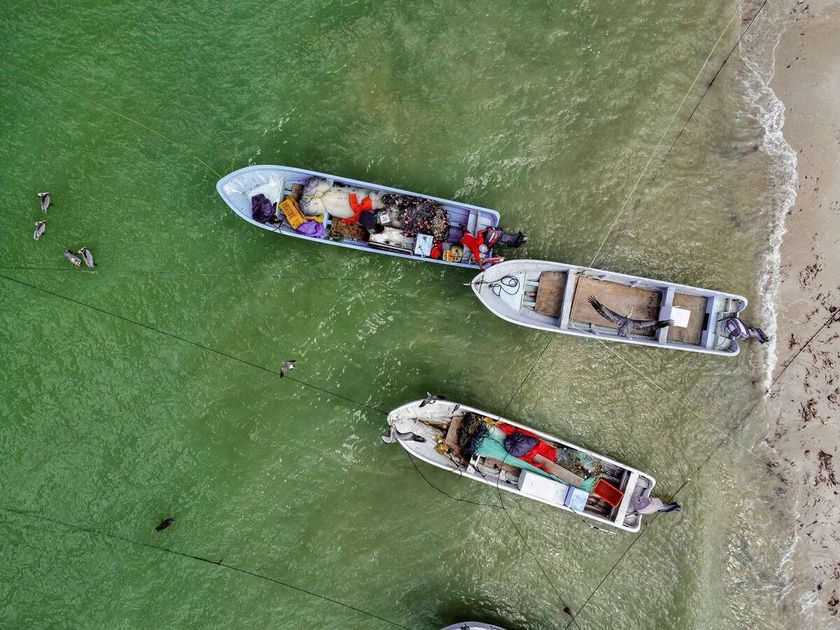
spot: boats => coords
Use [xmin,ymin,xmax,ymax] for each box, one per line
[470,257,773,356]
[386,402,684,530]
[217,162,529,269]
[436,618,518,630]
